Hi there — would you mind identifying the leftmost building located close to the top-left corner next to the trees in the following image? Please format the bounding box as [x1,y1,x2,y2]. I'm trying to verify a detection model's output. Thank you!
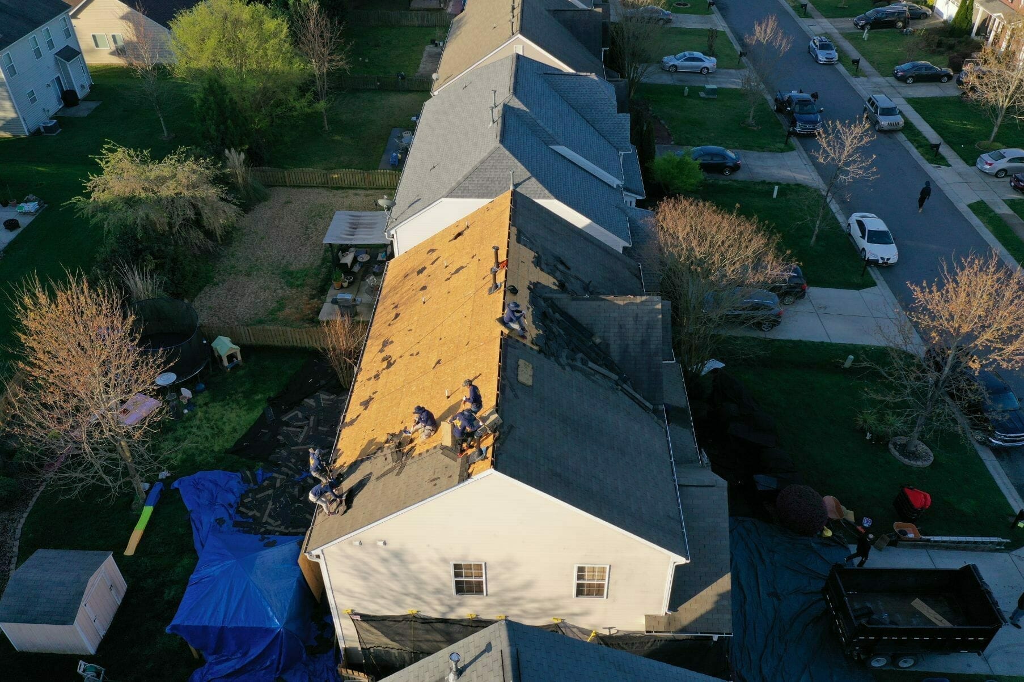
[0,0,100,137]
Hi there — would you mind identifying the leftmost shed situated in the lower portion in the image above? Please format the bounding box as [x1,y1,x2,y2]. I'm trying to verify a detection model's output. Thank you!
[0,553,129,657]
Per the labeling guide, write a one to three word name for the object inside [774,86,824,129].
truck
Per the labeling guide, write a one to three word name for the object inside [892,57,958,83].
car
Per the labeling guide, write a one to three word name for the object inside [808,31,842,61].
car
